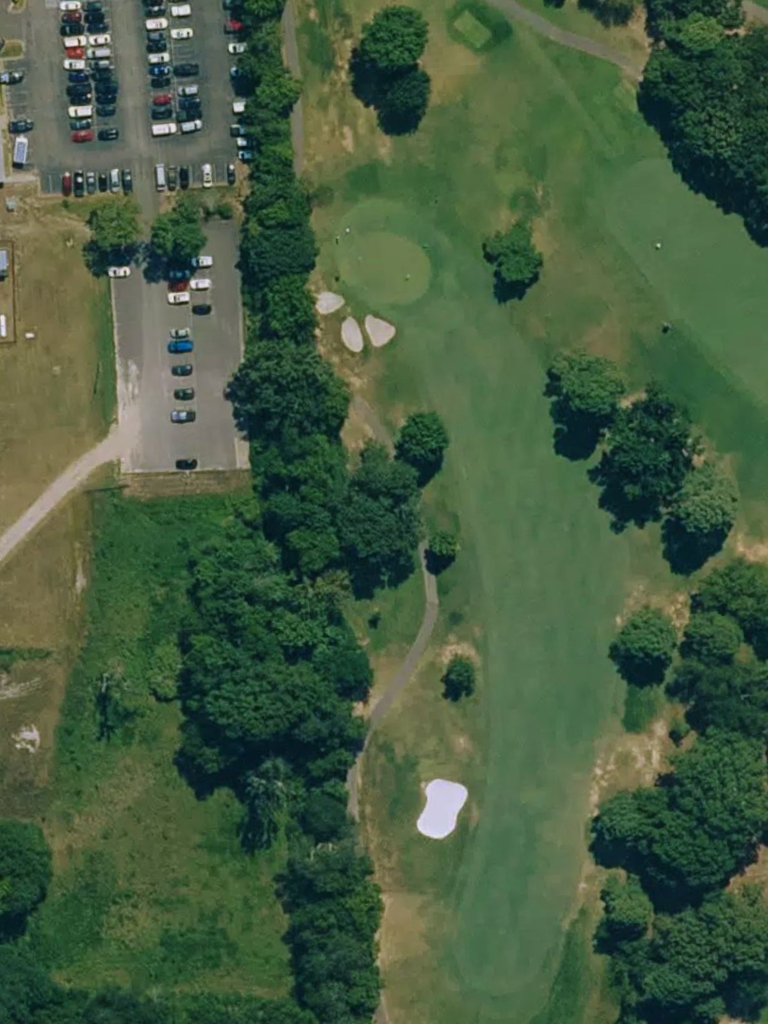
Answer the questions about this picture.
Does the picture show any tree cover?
Yes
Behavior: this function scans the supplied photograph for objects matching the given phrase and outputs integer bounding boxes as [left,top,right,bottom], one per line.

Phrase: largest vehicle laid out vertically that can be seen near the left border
[14,136,27,166]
